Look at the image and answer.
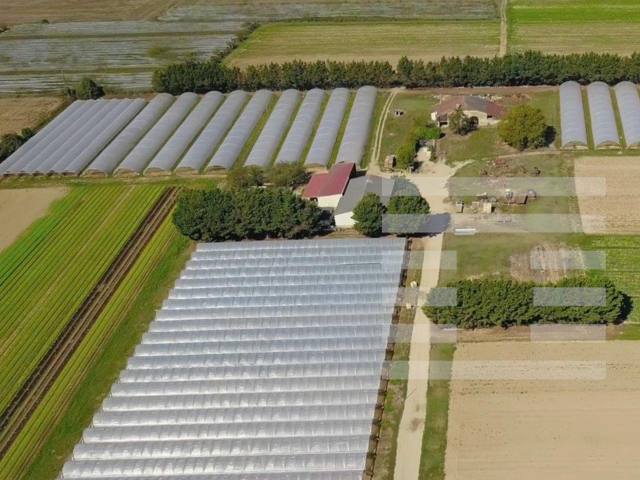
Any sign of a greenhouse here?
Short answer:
Yes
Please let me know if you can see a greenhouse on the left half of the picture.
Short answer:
Yes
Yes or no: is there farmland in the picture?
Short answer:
Yes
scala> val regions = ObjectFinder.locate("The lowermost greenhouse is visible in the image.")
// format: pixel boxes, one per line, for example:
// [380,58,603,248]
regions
[51,238,405,480]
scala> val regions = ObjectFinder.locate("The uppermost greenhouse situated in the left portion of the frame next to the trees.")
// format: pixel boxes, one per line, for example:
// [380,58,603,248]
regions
[0,95,146,178]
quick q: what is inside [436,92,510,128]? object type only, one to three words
house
